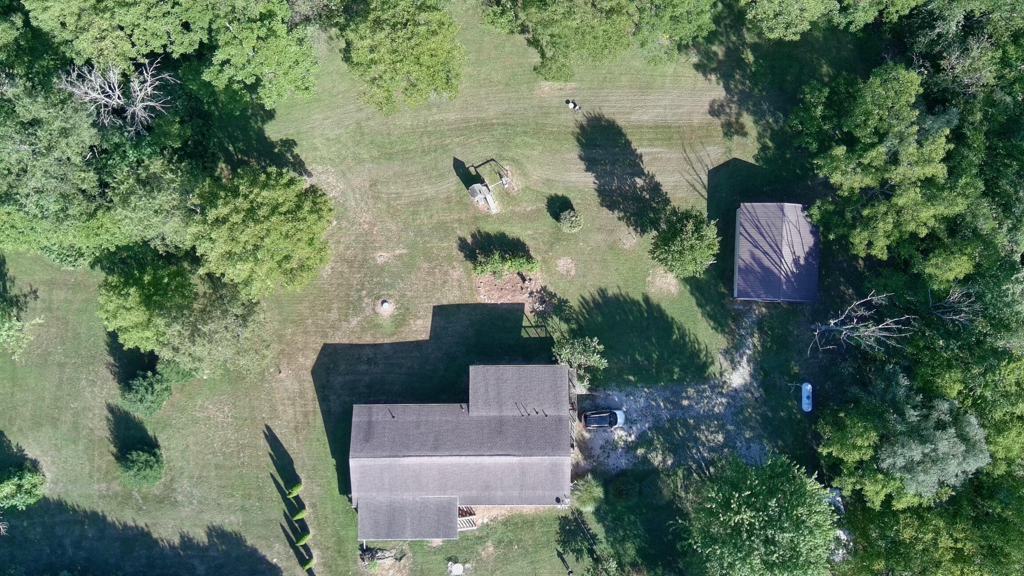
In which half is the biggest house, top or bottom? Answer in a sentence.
You can find the biggest house in the bottom half.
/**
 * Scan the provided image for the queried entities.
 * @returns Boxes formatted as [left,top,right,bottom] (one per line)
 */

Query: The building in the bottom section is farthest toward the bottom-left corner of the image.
[349,365,571,540]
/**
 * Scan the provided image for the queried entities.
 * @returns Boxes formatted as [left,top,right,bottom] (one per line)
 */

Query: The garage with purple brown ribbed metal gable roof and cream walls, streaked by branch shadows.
[732,202,820,302]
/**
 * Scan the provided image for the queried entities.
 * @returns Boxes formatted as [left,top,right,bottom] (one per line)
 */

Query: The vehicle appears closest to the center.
[581,408,624,429]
